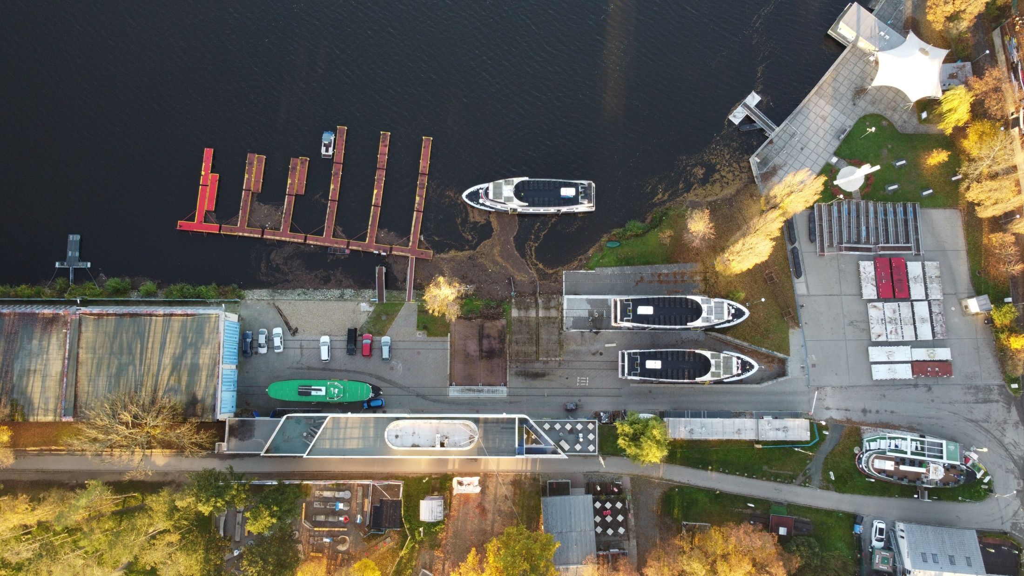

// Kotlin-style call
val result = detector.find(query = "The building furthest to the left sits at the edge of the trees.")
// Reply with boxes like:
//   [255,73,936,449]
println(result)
[0,306,252,421]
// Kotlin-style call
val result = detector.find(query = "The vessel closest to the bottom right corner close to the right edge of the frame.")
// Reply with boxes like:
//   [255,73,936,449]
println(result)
[849,433,975,501]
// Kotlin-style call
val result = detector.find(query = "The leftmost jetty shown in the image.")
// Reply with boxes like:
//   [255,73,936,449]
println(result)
[46,234,98,289]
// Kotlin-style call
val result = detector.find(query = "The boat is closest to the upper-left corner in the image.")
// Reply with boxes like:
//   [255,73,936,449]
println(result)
[322,132,335,160]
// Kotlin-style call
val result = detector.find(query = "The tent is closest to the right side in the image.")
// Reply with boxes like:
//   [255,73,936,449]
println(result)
[848,30,950,121]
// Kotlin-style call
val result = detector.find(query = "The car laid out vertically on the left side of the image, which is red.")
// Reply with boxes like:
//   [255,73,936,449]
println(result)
[361,333,373,358]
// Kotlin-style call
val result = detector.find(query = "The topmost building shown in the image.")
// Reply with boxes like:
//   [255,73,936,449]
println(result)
[824,2,906,62]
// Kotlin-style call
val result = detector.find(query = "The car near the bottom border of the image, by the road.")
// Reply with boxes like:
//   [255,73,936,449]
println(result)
[870,518,887,549]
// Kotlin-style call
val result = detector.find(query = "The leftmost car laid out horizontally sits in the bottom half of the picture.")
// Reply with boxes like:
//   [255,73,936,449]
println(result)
[363,398,386,410]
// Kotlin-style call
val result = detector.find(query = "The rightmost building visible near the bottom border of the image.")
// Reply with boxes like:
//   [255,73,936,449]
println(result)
[886,522,987,576]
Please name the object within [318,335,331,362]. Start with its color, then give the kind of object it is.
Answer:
white vehicle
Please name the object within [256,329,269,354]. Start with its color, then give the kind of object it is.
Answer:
white vehicle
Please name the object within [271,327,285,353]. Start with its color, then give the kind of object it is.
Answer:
white car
